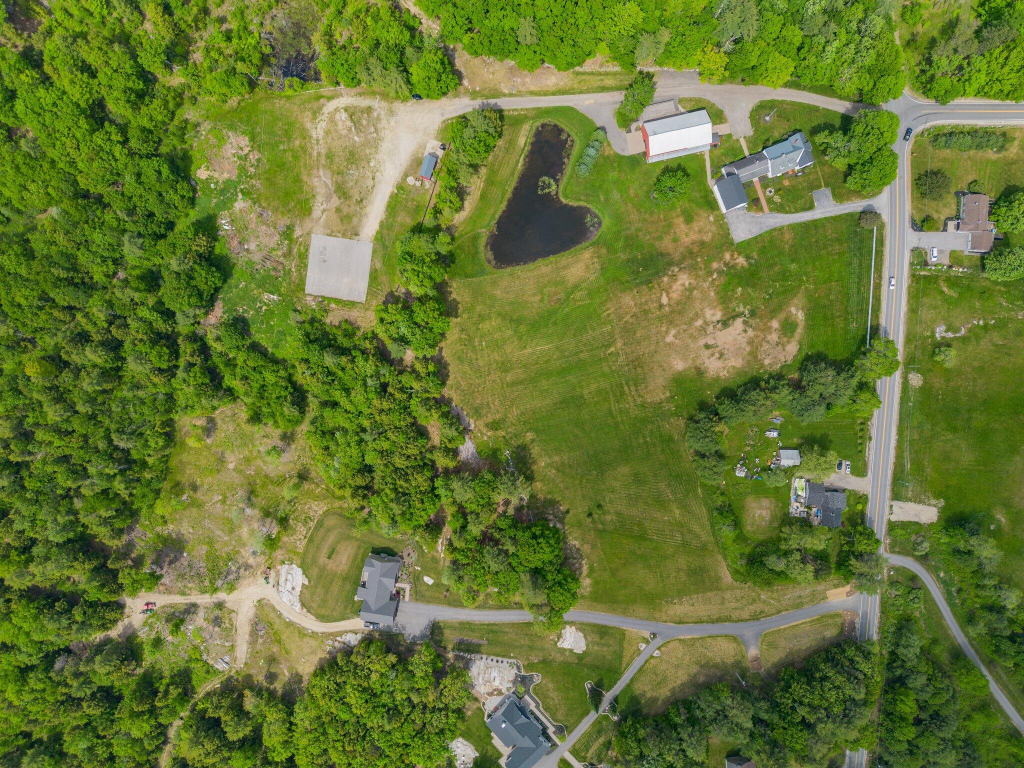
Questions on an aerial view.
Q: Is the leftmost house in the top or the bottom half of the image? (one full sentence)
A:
It is in the bottom half that the leftmost house appears.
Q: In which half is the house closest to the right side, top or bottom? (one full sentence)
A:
The house closest to the right side is in the top half of the image.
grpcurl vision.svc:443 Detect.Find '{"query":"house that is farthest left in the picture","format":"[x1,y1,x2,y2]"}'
[355,551,402,626]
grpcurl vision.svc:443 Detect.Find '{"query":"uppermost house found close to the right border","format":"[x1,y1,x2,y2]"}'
[955,193,1004,252]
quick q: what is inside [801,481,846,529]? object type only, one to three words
house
